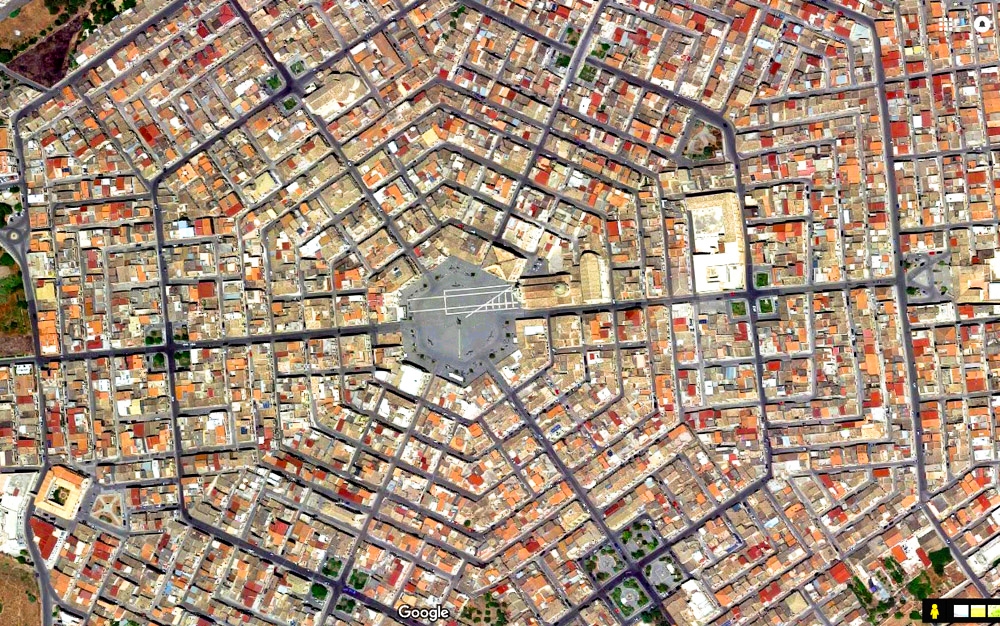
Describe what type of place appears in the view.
residential area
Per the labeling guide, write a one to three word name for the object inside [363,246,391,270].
house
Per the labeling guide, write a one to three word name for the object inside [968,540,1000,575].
building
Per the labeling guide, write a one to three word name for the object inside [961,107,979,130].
house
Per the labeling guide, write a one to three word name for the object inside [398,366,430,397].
building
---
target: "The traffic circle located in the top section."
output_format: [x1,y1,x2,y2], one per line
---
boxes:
[0,216,28,256]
